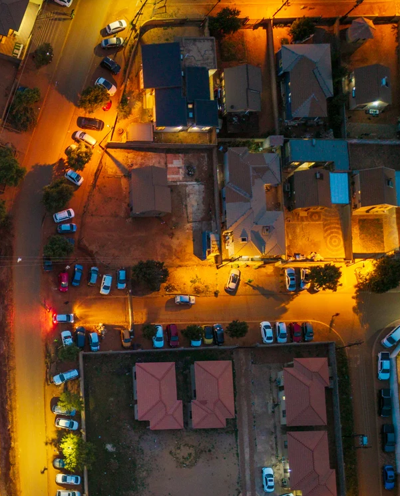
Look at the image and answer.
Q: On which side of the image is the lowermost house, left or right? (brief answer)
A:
right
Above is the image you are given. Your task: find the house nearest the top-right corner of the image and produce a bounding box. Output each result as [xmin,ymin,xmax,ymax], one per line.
[347,63,392,109]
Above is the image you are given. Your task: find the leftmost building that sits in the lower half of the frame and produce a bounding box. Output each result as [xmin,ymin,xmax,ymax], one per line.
[133,363,184,429]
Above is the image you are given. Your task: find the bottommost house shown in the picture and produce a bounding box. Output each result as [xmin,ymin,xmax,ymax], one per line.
[281,430,337,496]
